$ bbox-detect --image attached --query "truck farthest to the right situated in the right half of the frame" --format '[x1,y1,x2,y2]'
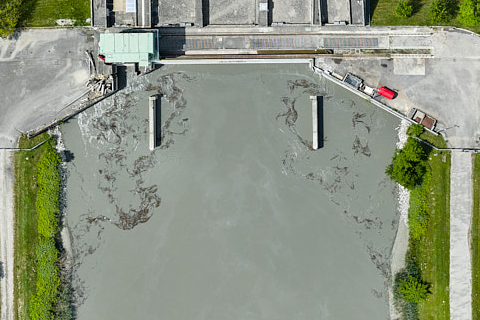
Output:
[411,110,440,131]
